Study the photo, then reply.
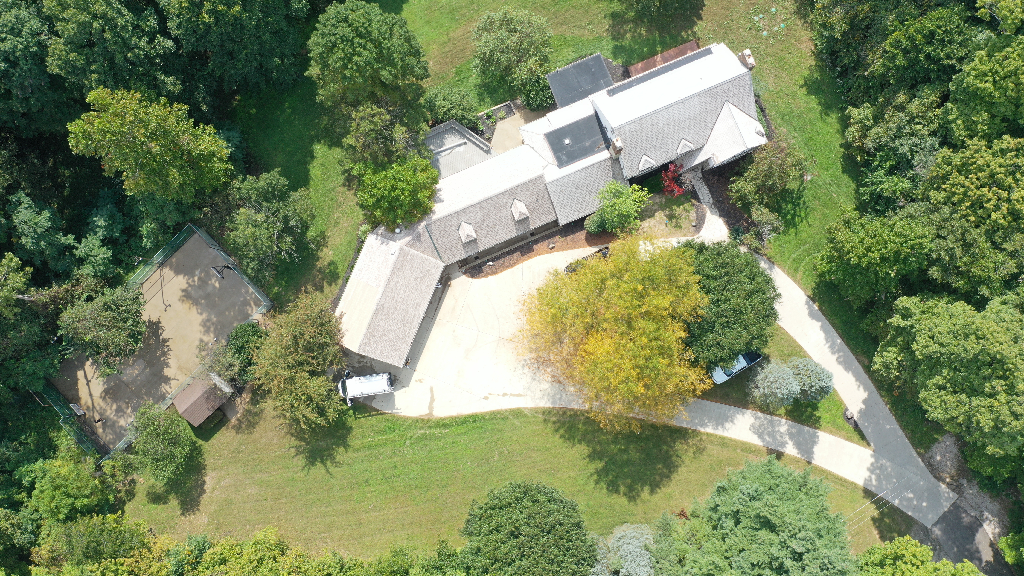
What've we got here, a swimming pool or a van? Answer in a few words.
van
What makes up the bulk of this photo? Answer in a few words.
trees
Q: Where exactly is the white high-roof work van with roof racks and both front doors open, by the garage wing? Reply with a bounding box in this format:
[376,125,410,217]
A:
[339,366,398,407]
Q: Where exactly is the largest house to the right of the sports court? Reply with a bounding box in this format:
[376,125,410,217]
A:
[327,40,766,368]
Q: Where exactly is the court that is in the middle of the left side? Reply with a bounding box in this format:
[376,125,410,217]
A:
[52,232,271,454]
